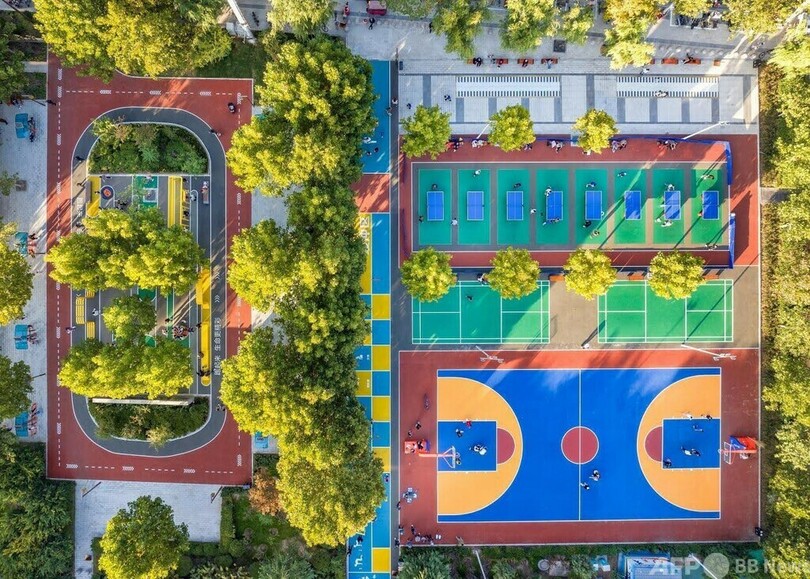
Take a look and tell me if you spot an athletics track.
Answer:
Yes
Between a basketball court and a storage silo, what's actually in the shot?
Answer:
basketball court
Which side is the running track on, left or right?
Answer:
left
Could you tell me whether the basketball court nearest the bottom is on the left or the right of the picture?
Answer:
right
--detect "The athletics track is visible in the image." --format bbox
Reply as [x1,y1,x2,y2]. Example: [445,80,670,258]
[47,44,253,489]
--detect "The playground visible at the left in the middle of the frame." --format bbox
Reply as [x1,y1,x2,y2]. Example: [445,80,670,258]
[85,174,210,396]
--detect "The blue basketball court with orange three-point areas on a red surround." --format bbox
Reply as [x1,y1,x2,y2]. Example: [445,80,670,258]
[391,348,758,547]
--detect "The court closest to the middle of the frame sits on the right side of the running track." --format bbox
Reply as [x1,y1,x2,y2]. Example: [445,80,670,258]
[412,281,551,344]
